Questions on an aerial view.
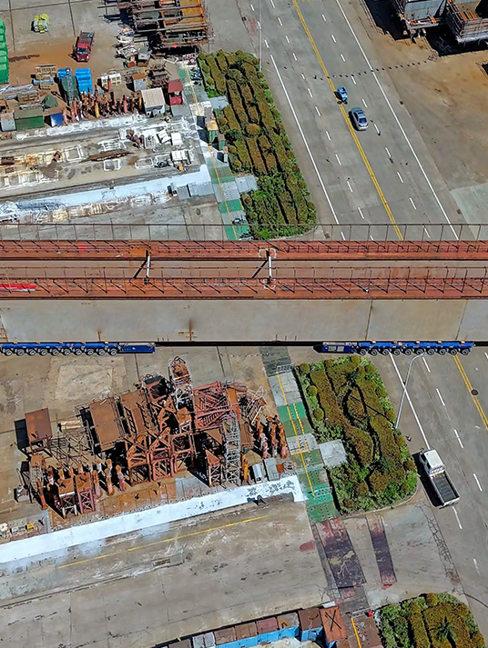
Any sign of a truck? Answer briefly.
Yes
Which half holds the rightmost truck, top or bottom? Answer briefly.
bottom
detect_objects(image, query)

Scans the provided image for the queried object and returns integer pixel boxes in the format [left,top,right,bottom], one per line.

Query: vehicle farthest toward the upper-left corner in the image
[73,31,90,56]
